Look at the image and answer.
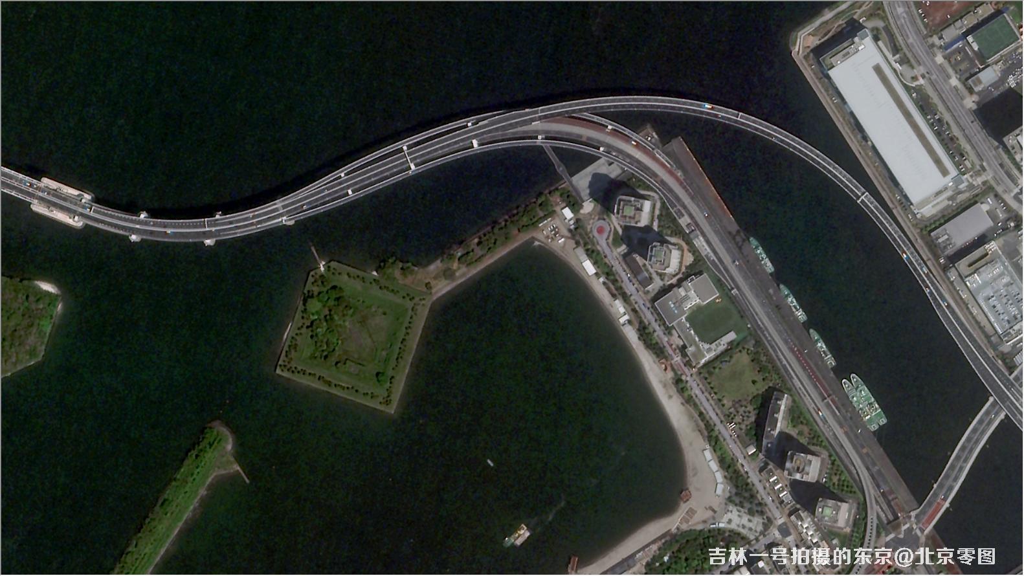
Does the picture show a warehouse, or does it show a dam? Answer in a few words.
warehouse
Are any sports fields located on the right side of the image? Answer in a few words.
Yes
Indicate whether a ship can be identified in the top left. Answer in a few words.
No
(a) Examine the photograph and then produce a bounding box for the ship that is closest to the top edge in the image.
[749,236,775,273]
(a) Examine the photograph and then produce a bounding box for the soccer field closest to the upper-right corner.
[973,14,1023,59]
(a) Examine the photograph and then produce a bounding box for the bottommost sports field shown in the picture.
[686,277,752,345]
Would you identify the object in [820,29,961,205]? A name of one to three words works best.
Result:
warehouse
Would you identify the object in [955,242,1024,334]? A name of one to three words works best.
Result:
building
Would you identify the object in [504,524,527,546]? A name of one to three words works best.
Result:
ship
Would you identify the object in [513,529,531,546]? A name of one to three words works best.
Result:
ship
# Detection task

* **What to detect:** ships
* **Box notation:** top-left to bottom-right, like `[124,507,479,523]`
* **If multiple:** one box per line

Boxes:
[749,236,775,273]
[850,372,886,426]
[809,328,836,368]
[780,283,807,323]
[504,524,527,546]
[842,378,879,433]
[513,529,531,546]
